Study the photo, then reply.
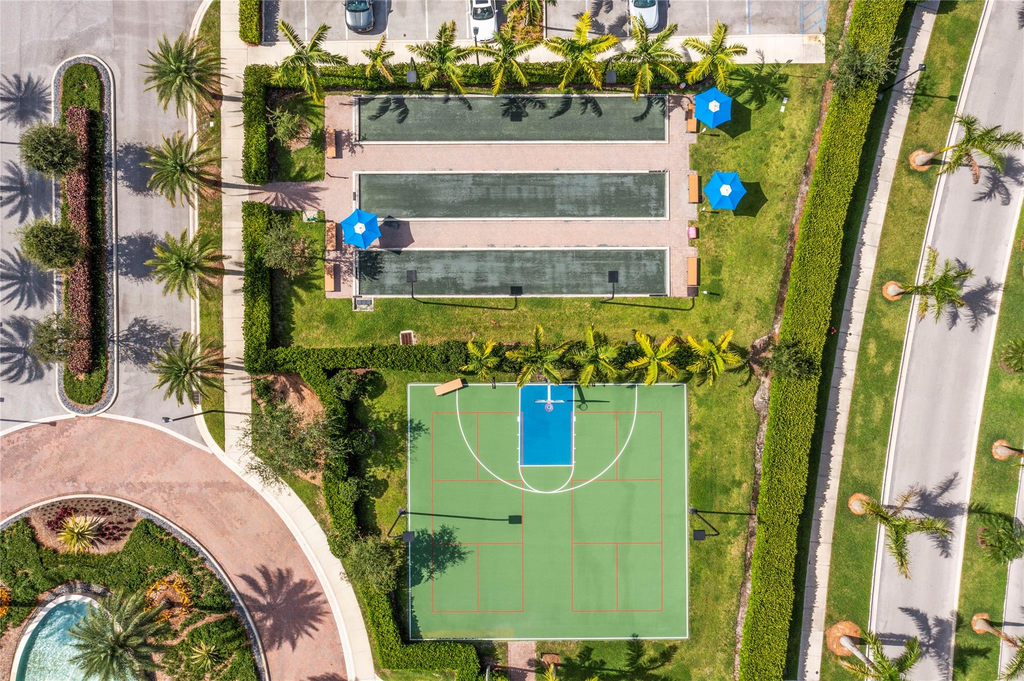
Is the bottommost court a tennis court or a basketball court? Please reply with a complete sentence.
The bottommost court is a basketball court.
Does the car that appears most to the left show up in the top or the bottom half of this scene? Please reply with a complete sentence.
The top half of the photo is where the car that appears most to the left is.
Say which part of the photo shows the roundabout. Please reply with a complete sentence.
The roundabout is located in the bottom left region of the scene.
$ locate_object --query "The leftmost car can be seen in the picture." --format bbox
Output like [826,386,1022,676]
[336,0,372,33]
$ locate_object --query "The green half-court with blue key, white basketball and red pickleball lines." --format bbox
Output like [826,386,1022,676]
[407,382,691,643]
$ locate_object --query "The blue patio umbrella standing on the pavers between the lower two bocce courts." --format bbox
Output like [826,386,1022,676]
[341,208,382,251]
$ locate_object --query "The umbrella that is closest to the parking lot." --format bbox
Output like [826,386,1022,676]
[693,87,731,131]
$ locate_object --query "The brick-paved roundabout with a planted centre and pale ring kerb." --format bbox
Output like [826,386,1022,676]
[0,413,347,681]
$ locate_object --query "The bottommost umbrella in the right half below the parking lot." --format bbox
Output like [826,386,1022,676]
[701,172,745,211]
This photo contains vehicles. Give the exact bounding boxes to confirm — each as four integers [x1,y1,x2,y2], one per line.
[466,0,501,45]
[629,0,664,32]
[336,0,372,33]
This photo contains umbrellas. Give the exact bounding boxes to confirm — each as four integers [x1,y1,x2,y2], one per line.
[693,87,731,131]
[701,172,745,211]
[341,208,382,251]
